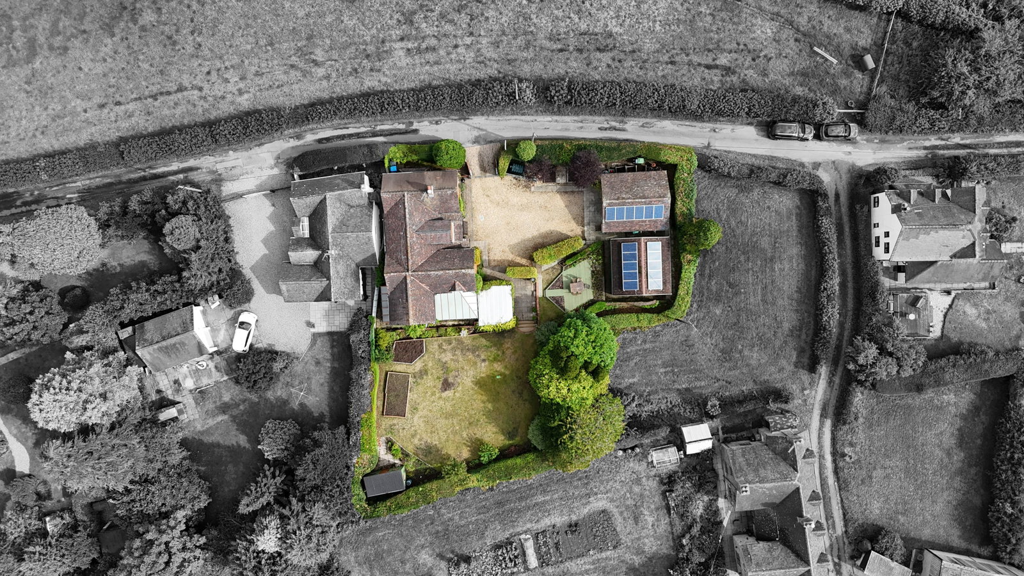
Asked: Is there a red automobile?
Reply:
No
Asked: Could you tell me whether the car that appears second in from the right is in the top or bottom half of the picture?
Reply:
top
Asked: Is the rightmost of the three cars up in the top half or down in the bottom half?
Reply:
top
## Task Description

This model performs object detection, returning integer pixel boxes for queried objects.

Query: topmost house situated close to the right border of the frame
[873,183,1007,261]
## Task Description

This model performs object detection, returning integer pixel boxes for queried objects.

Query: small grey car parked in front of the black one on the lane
[819,121,857,142]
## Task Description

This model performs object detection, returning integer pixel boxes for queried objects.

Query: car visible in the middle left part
[232,311,259,353]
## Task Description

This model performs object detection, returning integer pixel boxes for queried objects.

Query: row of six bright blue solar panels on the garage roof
[605,205,665,221]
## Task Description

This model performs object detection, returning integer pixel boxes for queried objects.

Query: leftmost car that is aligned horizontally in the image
[768,120,812,142]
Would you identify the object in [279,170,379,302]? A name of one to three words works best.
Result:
house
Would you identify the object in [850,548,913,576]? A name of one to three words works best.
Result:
shed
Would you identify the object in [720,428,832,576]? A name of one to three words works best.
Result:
house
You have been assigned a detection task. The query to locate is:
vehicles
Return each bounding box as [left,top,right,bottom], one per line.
[819,121,857,142]
[232,311,259,353]
[768,120,812,142]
